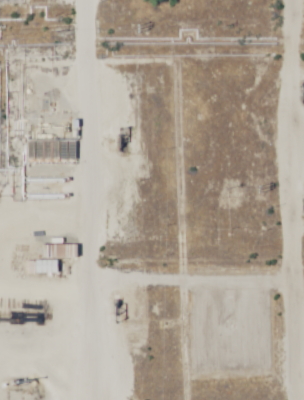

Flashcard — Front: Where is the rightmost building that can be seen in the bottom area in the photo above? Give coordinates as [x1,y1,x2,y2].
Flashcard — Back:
[44,244,77,258]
